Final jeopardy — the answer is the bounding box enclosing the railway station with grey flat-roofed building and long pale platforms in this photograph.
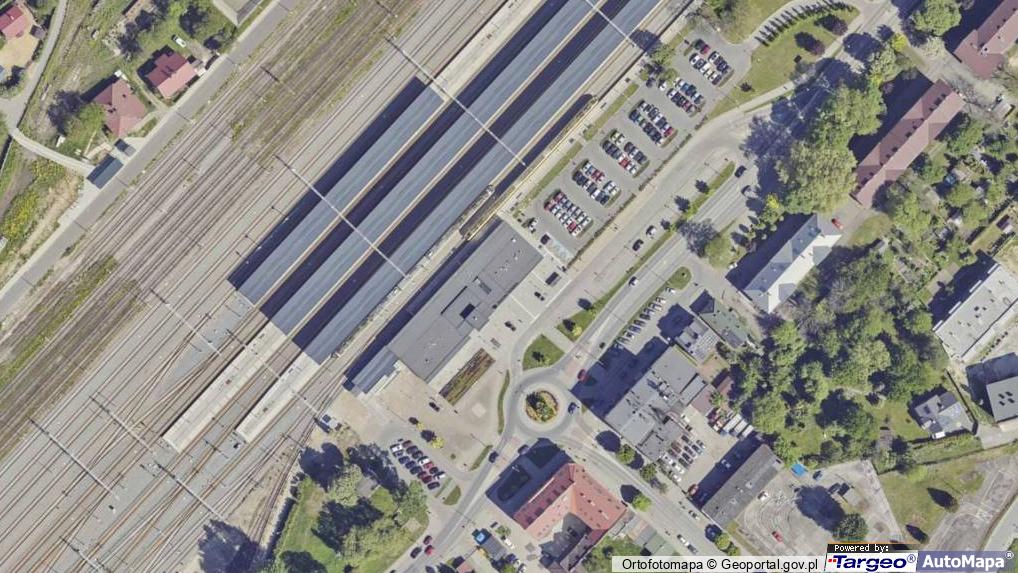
[163,0,662,454]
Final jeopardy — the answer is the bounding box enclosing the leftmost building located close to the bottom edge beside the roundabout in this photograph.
[512,464,627,572]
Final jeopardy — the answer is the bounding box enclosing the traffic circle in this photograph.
[508,372,577,441]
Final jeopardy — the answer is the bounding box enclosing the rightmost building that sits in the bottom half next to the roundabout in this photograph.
[605,344,709,462]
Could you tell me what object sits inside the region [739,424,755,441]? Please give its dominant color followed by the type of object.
white vehicle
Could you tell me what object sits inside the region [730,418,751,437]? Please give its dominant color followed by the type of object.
white vehicle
